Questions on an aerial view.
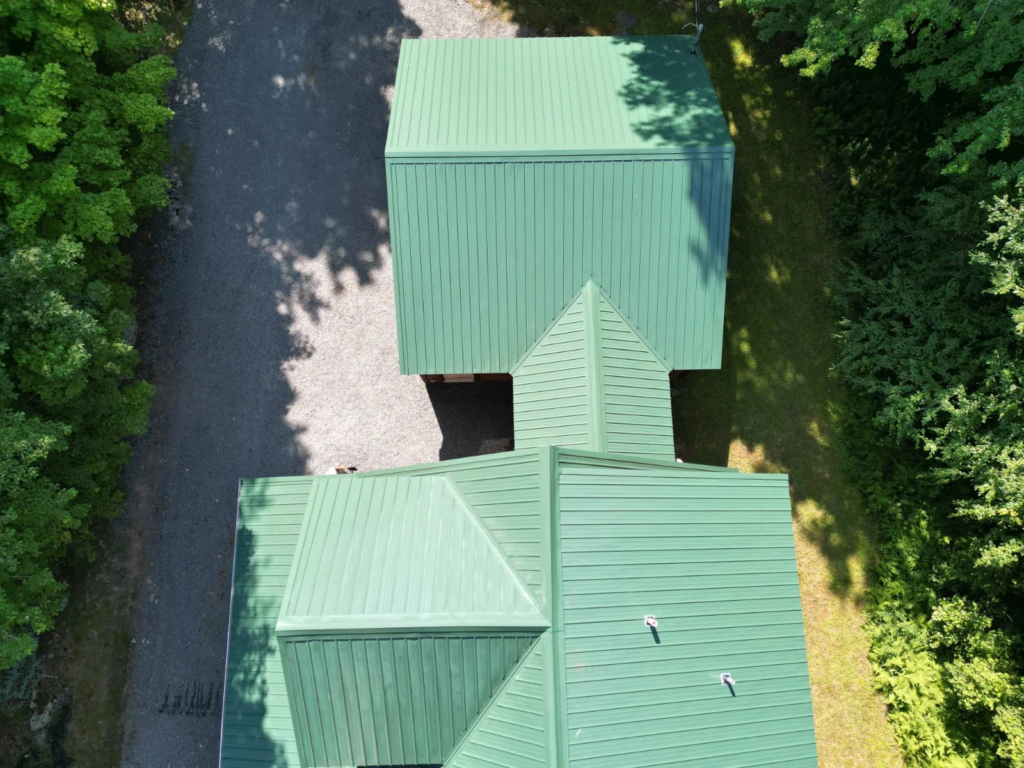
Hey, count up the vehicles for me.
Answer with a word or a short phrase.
0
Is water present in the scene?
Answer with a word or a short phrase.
No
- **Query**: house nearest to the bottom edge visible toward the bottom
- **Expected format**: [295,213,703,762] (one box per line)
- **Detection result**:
[217,446,817,768]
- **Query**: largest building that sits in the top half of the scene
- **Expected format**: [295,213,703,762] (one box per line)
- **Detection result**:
[385,37,736,385]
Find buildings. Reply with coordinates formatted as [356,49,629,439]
[385,37,736,385]
[217,446,817,768]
